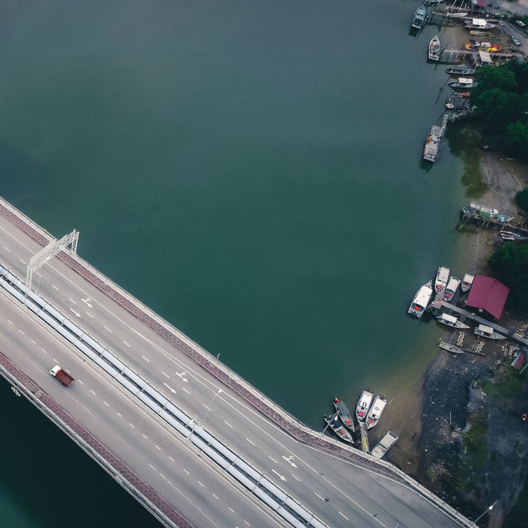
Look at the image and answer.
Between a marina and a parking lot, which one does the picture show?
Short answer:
marina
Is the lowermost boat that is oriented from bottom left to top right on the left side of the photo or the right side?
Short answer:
right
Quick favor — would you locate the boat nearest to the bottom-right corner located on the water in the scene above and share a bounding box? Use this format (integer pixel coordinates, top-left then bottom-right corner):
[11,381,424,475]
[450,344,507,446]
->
[371,428,400,458]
